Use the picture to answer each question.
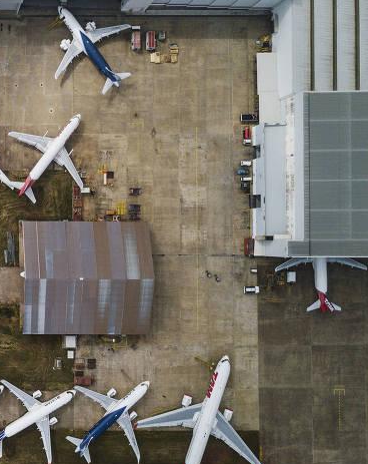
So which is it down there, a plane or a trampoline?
plane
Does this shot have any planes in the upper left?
Yes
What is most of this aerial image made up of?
paved ground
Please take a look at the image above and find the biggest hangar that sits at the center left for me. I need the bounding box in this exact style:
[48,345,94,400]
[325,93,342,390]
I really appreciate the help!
[21,220,154,334]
